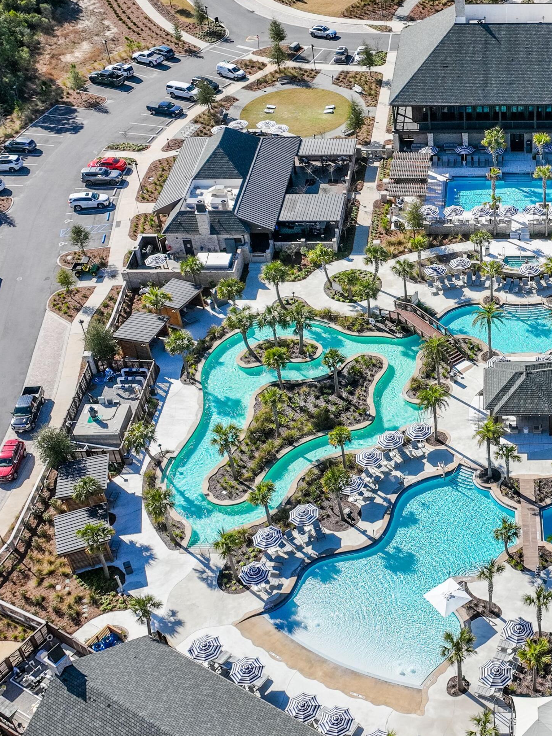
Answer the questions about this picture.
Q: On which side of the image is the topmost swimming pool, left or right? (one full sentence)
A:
The topmost swimming pool is on the right side of the image.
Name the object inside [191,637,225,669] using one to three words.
umbrella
